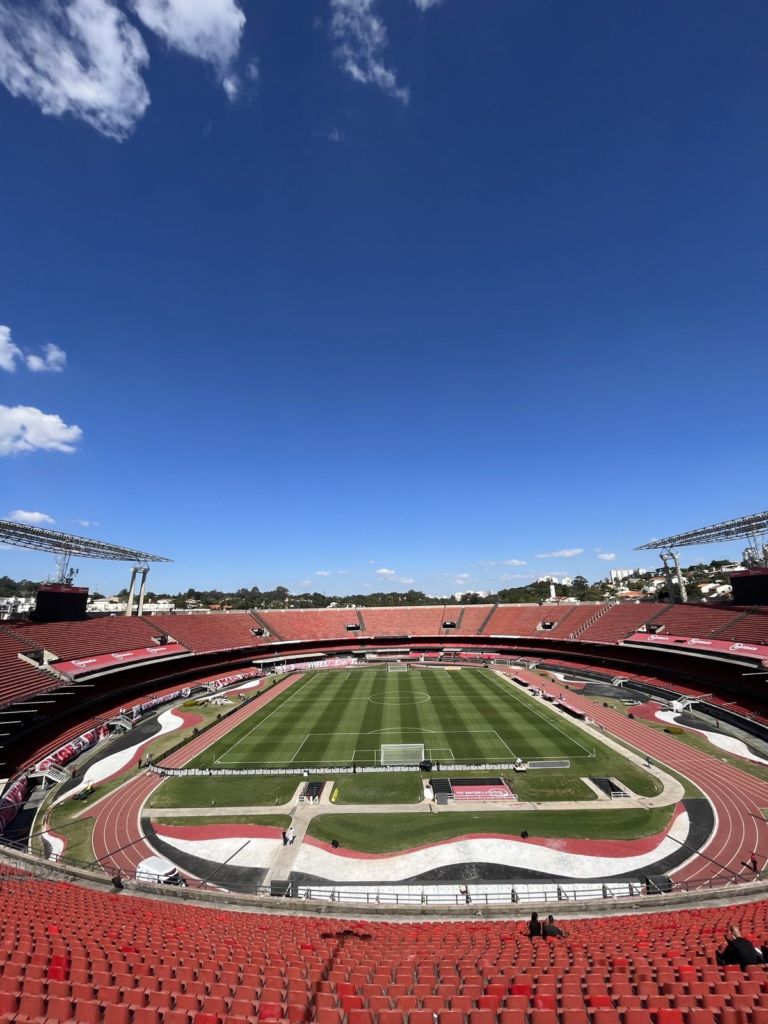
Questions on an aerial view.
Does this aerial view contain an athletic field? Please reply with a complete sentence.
Yes, you can see an athletic field in this photo.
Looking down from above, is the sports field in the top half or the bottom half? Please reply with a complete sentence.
The sports field is in the bottom half of the image.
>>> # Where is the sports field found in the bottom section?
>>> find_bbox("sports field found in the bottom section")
[194,669,625,769]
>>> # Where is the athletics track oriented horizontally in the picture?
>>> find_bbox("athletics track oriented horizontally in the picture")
[65,660,768,892]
